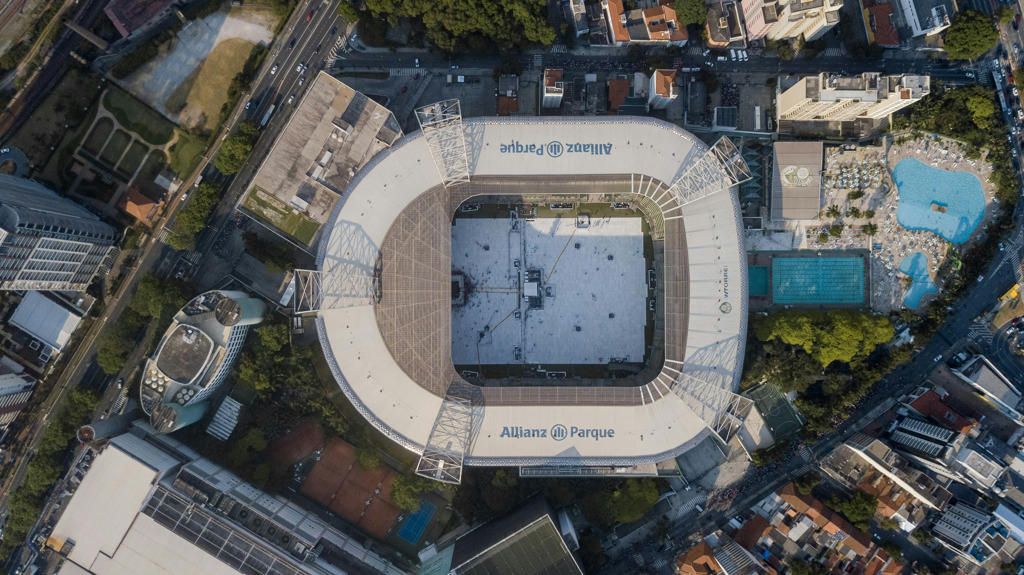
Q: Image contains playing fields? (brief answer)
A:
Yes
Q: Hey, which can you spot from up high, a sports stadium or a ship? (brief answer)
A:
sports stadium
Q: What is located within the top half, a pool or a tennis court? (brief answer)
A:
pool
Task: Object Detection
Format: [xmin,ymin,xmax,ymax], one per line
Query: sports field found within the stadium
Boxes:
[452,204,654,378]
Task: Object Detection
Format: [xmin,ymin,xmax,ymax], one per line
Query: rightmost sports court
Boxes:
[751,386,804,445]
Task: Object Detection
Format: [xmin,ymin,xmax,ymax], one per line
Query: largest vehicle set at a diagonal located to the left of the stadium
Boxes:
[259,103,276,125]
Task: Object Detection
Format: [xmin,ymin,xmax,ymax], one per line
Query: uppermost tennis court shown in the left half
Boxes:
[269,420,329,465]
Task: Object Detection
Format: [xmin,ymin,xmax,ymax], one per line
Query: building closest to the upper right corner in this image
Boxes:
[899,0,958,40]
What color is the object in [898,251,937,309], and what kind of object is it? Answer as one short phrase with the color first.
blue swimming pool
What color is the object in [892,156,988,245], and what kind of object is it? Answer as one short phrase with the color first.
blue swimming pool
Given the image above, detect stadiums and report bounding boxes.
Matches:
[296,100,753,484]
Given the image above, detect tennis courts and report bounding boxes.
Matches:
[269,420,329,465]
[359,473,401,538]
[331,460,386,524]
[392,495,447,555]
[301,437,355,504]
